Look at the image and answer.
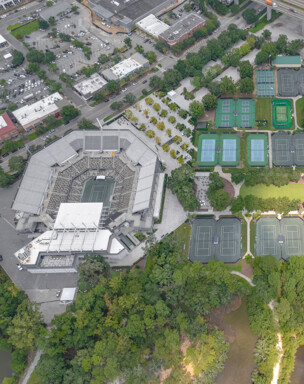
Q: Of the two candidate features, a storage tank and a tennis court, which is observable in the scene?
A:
tennis court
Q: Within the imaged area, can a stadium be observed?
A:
Yes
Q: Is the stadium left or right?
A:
left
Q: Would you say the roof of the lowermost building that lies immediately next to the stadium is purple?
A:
No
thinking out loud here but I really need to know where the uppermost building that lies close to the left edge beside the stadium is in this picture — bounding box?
[12,93,66,130]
